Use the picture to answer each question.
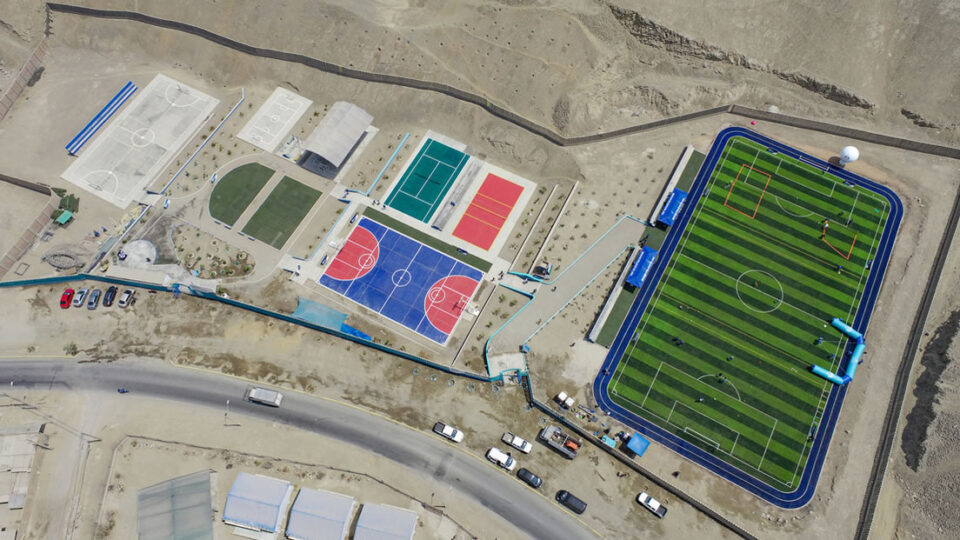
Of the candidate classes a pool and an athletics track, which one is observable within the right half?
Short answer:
athletics track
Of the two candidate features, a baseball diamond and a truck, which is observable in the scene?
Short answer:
truck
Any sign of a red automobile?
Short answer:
Yes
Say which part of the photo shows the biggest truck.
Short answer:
bottom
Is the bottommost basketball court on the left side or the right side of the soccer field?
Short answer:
to the left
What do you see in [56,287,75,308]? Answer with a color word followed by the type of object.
red car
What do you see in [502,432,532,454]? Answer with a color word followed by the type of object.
white truck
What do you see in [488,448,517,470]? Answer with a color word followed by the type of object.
white car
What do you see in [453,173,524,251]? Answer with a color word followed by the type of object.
red sports court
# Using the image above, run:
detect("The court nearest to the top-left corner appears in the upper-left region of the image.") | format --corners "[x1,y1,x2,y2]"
[60,73,220,209]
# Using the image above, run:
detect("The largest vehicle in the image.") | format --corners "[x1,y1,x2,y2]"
[538,428,585,465]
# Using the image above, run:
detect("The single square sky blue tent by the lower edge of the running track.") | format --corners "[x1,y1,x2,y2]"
[624,432,650,458]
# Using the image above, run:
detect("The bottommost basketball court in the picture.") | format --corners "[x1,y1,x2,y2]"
[317,216,485,345]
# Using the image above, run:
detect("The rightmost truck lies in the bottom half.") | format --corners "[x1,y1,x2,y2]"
[638,491,670,519]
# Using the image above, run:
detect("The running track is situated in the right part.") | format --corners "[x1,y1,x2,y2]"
[594,127,904,509]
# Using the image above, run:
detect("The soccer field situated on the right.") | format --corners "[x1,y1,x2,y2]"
[608,136,892,493]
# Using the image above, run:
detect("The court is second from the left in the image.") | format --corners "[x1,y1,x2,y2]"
[237,87,312,153]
